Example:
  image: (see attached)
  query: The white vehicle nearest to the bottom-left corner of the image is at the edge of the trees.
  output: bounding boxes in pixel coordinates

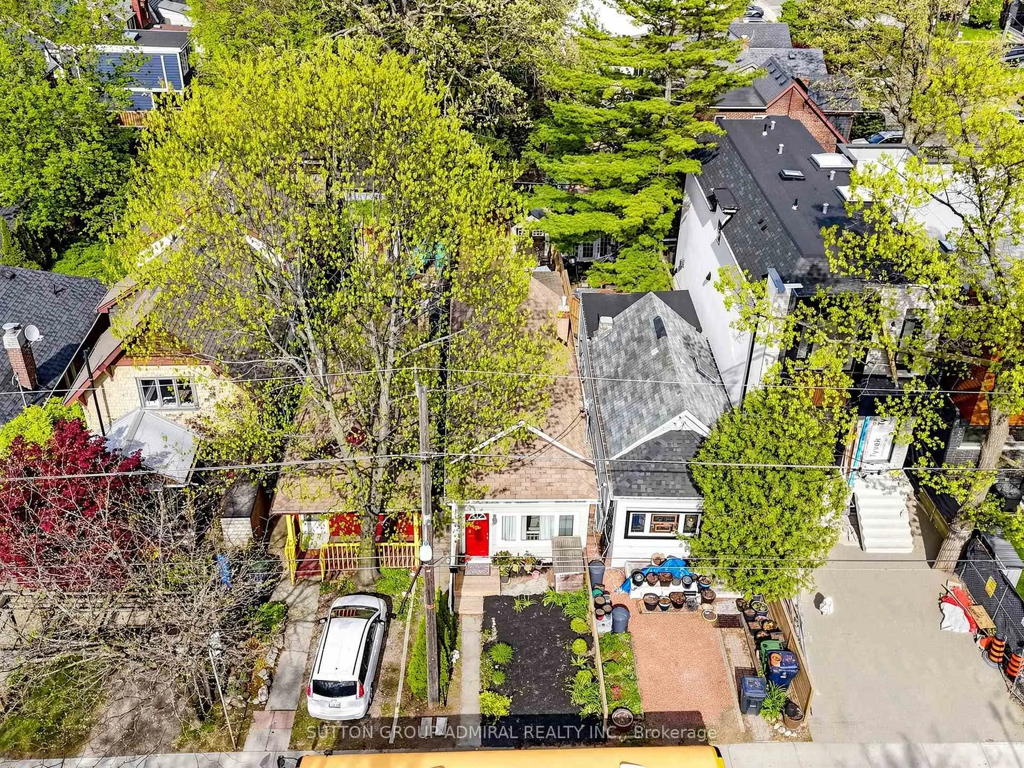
[309,597,390,714]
